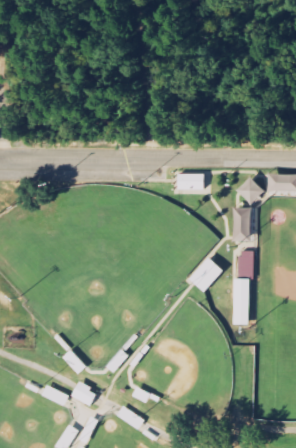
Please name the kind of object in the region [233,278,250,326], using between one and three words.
shed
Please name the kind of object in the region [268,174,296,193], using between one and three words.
building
